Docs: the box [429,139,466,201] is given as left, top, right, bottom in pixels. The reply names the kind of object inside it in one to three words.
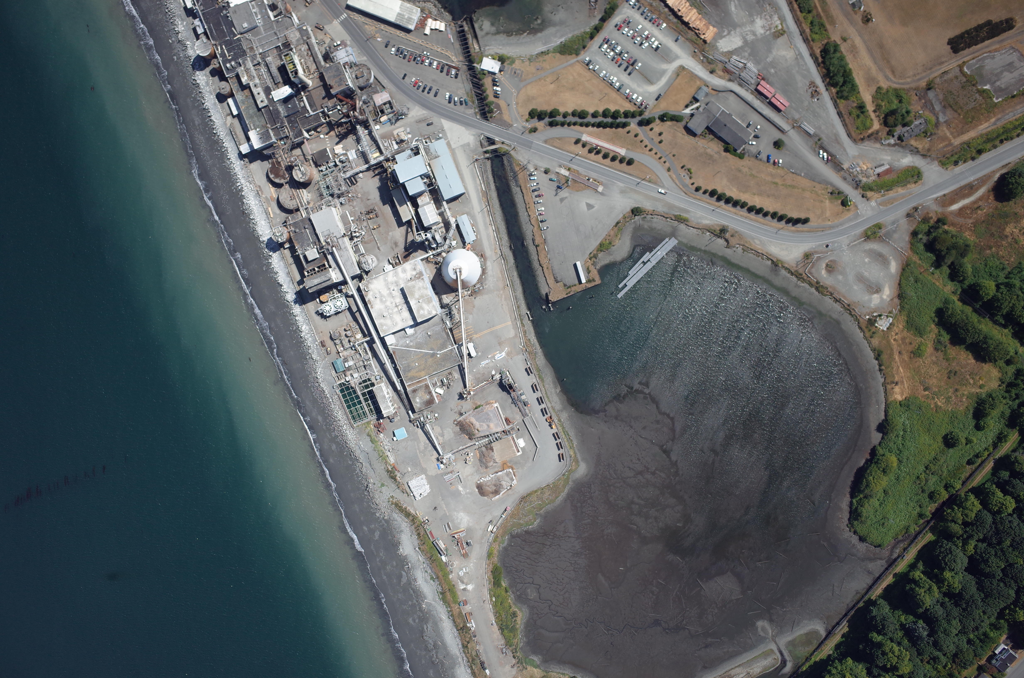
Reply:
building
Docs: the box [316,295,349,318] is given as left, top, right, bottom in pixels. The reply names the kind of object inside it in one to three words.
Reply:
cooling tower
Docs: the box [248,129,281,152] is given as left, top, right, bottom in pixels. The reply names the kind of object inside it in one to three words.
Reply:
building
